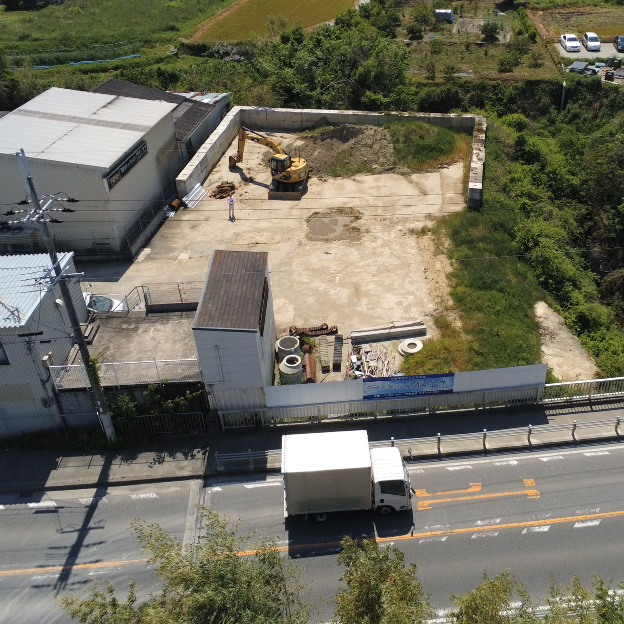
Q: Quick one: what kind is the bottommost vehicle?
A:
truck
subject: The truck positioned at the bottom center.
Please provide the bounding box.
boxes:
[278,430,418,524]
